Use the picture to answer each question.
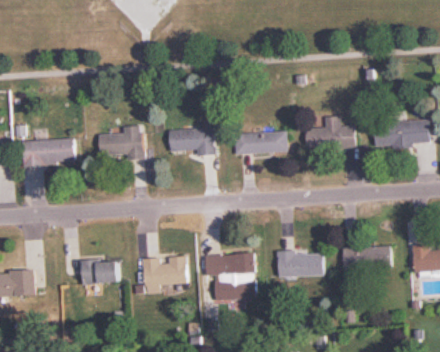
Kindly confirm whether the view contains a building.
Yes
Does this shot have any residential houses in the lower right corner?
Yes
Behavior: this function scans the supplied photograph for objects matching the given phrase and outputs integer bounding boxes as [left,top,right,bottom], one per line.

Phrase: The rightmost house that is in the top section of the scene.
[374,119,433,150]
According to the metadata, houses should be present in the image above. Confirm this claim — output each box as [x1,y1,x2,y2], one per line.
[97,124,148,160]
[79,260,120,284]
[142,256,189,294]
[276,252,324,276]
[204,254,258,302]
[169,128,217,156]
[374,119,433,150]
[22,140,76,170]
[412,244,440,272]
[237,130,290,155]
[342,246,392,270]
[305,116,358,149]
